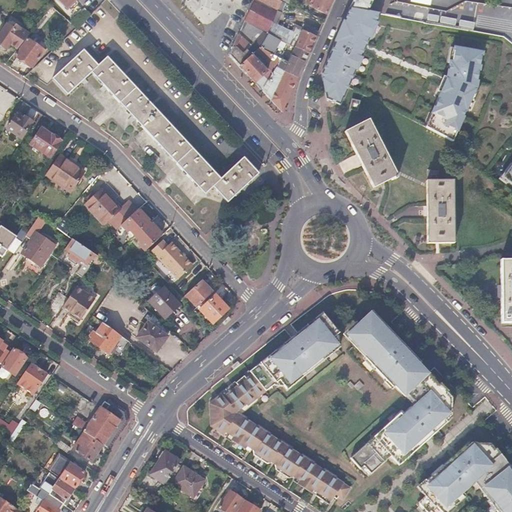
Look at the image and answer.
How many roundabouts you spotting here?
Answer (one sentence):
Just 1 roundabout appears in this view.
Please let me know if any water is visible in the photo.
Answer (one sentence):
No, water can't be seen anywhere here.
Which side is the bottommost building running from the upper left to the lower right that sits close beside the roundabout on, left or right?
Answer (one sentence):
You can find the bottommost building running from the upper left to the lower right that sits close beside the roundabout on the right side of the picture.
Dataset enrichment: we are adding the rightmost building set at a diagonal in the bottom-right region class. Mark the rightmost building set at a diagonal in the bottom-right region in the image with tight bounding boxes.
[414,440,500,512]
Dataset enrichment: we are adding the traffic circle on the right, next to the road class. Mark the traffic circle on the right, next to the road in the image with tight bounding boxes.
[282,194,369,282]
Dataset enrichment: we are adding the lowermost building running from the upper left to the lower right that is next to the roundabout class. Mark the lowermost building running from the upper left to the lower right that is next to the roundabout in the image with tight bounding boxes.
[344,310,446,402]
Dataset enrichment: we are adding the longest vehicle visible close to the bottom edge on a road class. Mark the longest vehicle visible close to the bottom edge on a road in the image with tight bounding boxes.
[101,472,118,494]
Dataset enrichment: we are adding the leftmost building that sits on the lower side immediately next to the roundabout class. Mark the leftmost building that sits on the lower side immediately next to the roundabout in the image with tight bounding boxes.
[262,312,344,390]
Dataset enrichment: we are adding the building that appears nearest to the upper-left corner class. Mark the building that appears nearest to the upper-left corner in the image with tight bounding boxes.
[0,18,32,52]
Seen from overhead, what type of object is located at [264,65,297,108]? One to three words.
house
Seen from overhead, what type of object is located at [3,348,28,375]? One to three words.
house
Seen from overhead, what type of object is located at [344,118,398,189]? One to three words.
building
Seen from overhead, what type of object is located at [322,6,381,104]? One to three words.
building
